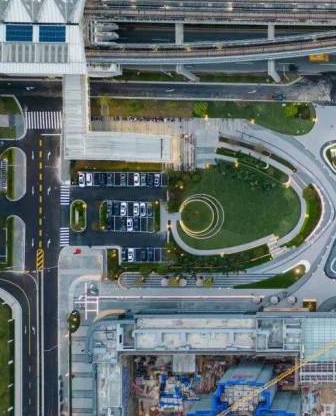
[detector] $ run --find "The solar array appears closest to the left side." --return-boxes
[6,25,33,41]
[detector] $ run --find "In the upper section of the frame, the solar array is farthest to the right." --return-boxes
[40,25,66,41]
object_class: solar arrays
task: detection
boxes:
[6,25,33,41]
[40,25,66,41]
